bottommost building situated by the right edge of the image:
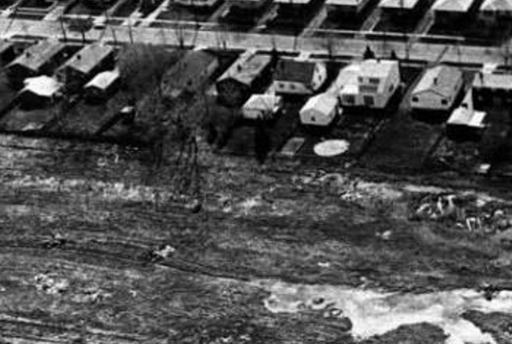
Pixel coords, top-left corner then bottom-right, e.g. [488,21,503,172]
[448,109,491,136]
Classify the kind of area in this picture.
residential area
